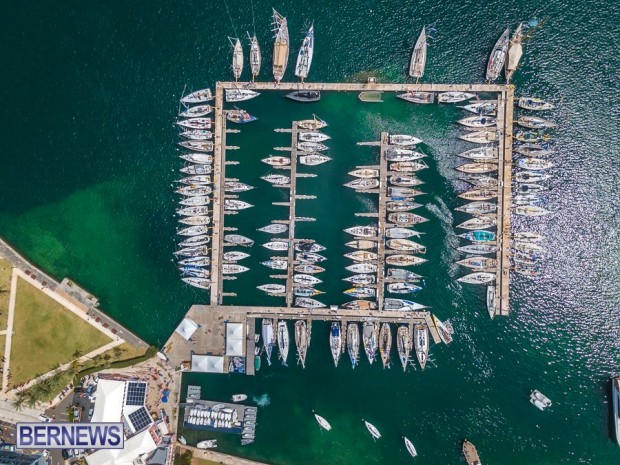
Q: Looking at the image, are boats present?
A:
Yes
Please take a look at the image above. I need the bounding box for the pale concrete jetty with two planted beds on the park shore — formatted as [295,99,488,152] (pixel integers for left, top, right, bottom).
[54,277,101,312]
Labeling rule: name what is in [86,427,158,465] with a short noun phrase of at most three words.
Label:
building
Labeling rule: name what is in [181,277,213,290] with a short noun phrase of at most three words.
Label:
boat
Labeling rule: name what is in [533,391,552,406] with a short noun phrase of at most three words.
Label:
boat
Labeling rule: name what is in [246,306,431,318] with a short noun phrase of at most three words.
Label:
pier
